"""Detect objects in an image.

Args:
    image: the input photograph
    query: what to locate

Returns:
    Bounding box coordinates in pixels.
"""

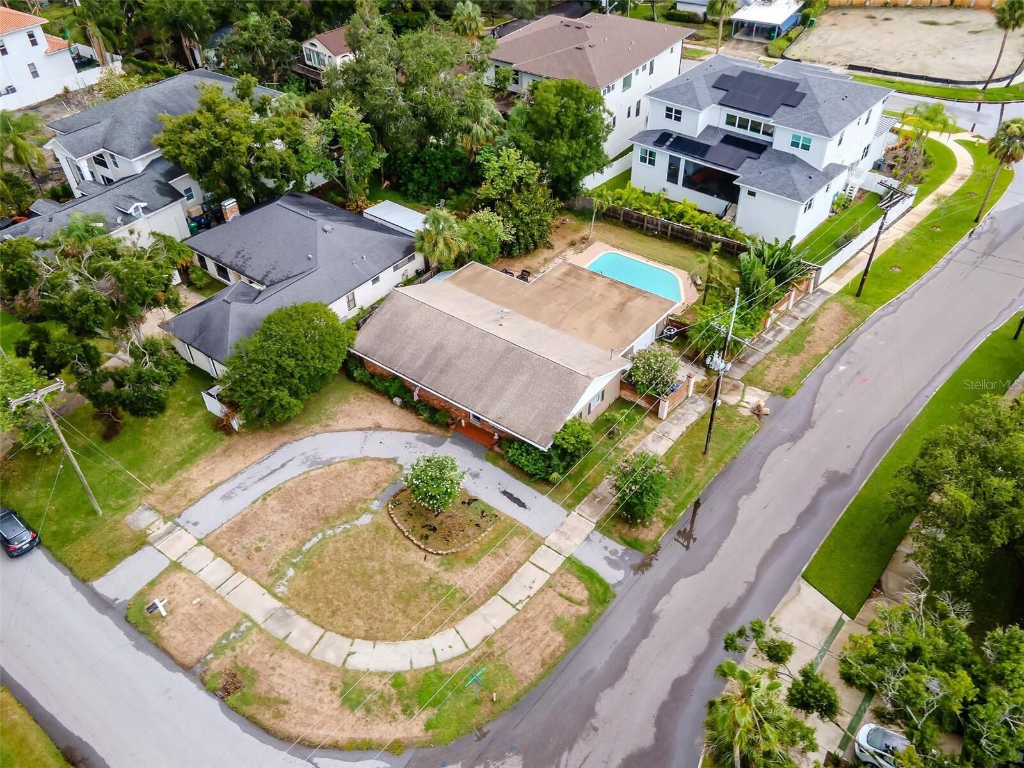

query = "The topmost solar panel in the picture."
[712,74,806,117]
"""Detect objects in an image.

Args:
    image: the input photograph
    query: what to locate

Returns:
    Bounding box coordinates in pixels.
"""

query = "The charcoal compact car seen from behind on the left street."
[0,512,35,561]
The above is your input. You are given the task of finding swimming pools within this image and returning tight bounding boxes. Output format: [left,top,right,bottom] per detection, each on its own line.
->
[579,248,687,312]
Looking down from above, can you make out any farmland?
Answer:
No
